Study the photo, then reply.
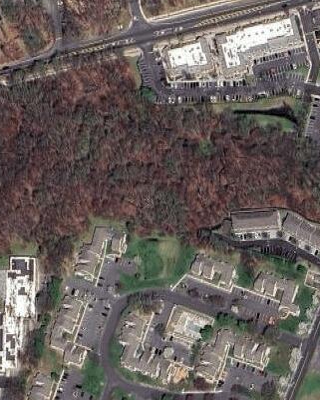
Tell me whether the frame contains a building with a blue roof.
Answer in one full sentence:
No, I can't see a single building with a blue roof in this photo.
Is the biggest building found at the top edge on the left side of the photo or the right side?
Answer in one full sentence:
It is on the right.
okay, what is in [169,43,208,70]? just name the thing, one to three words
building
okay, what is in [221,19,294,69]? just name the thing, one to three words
building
